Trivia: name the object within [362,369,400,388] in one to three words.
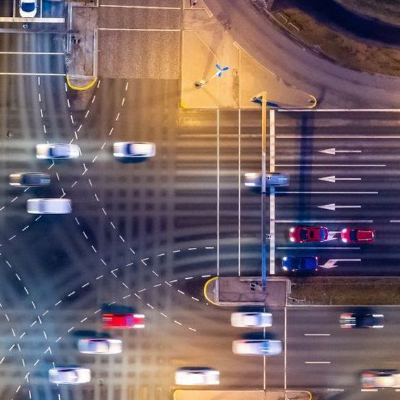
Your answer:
car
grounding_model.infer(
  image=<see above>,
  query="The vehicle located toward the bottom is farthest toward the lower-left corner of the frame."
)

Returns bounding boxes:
[49,365,90,385]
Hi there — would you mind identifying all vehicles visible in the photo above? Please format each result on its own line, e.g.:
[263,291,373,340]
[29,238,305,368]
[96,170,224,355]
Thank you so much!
[36,141,79,160]
[49,365,90,385]
[340,225,375,245]
[102,311,143,330]
[10,170,51,188]
[78,336,121,355]
[282,254,320,273]
[362,369,400,388]
[341,310,382,329]
[289,225,329,244]
[230,310,270,329]
[233,337,280,356]
[27,196,70,215]
[19,0,38,18]
[113,141,155,159]
[176,367,219,386]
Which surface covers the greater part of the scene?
paved ground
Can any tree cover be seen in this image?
No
